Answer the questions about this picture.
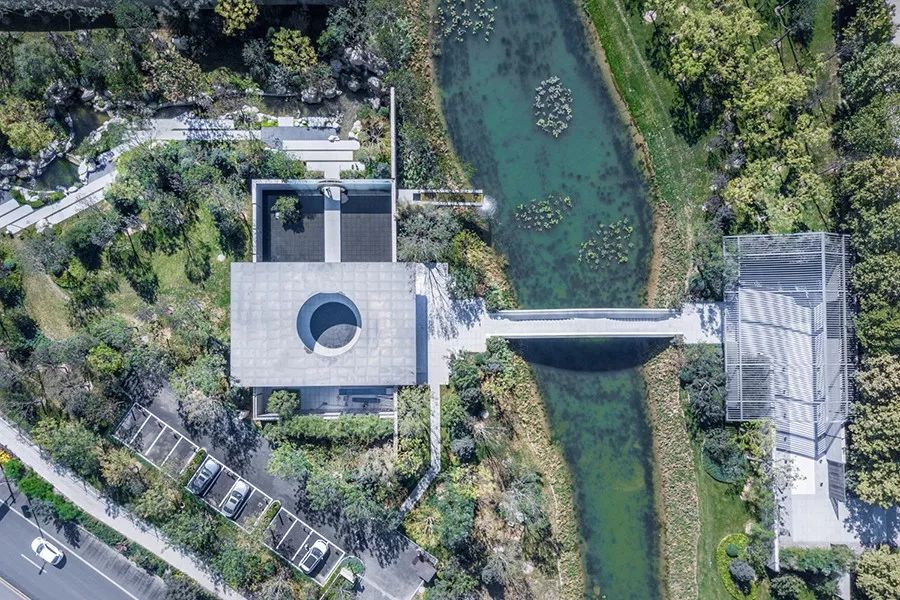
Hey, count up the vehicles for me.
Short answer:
four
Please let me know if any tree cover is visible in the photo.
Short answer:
Yes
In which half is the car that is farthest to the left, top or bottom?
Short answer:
bottom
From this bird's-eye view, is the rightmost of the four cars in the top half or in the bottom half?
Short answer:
bottom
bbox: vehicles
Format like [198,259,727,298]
[298,534,333,577]
[28,535,67,569]
[189,455,223,497]
[221,477,255,520]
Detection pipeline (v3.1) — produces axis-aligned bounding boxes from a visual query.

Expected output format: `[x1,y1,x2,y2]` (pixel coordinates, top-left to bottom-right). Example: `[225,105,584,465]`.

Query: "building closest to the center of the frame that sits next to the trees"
[230,263,417,386]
